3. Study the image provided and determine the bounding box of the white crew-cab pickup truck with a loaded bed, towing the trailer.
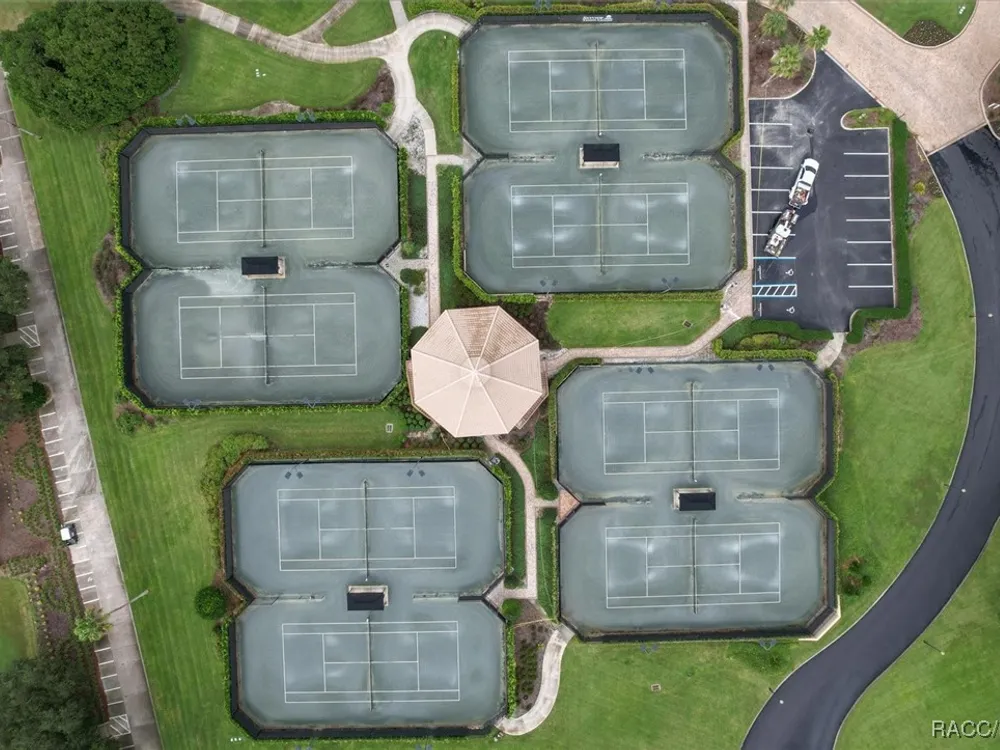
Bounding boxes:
[790,158,819,209]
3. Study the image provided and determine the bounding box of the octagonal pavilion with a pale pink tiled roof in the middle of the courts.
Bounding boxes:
[406,305,548,438]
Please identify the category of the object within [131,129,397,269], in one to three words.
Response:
tennis court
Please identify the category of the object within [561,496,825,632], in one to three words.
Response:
tennis court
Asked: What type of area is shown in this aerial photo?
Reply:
sports ground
